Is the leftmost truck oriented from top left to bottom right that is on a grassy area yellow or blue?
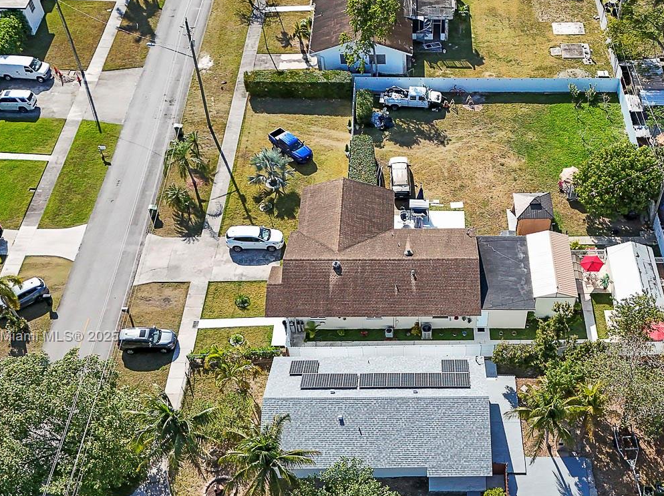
blue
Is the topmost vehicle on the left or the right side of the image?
left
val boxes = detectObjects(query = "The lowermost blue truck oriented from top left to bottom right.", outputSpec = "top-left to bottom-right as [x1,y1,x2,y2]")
[266,125,316,164]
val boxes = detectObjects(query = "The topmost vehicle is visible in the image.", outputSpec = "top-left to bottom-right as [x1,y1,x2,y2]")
[0,51,57,84]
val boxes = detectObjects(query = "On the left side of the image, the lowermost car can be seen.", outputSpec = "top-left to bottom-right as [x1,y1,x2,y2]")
[109,323,184,355]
